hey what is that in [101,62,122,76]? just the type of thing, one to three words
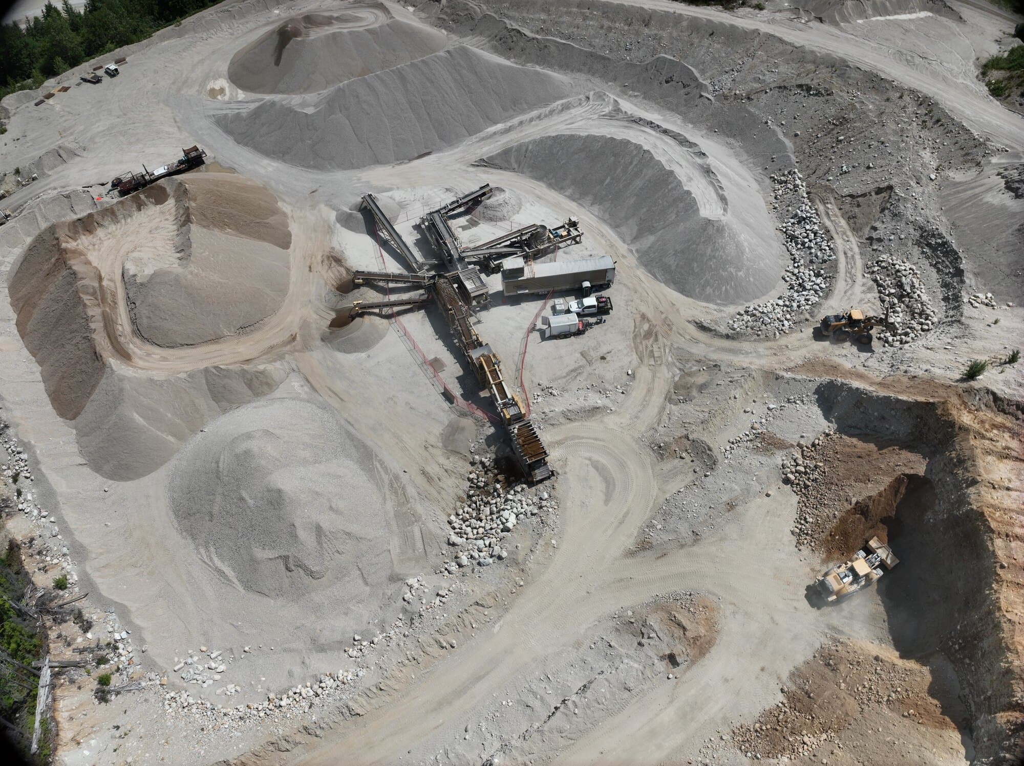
vehicle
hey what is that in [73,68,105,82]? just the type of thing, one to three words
vehicle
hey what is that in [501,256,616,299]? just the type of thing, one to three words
trailer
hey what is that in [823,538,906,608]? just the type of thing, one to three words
work vehicle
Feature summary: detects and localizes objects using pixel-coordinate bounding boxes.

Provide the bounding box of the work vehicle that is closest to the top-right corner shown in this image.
[819,311,908,349]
